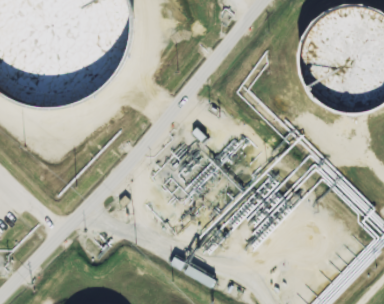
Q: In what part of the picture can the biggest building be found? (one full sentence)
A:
Look in the bottom portion of the view to spot the biggest building.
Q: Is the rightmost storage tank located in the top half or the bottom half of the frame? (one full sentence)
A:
You can find the rightmost storage tank in the top half.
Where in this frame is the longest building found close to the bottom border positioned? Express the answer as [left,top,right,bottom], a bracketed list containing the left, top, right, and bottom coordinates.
[184,265,218,291]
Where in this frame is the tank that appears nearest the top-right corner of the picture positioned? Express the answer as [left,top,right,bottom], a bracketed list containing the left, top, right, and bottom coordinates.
[296,4,384,116]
